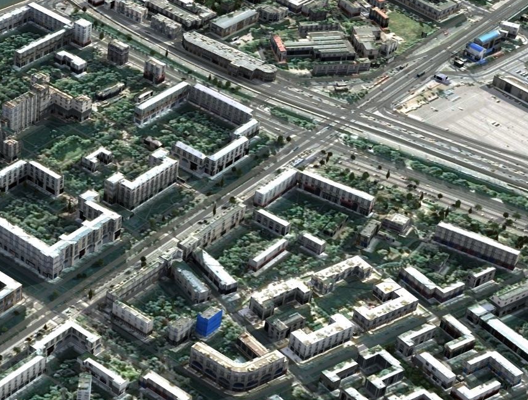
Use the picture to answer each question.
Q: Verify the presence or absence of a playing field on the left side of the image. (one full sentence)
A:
No, looking on the left side of the image, there is no playing field.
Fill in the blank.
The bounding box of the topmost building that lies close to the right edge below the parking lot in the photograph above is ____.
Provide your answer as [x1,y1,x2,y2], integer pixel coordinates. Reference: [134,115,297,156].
[433,218,520,271]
